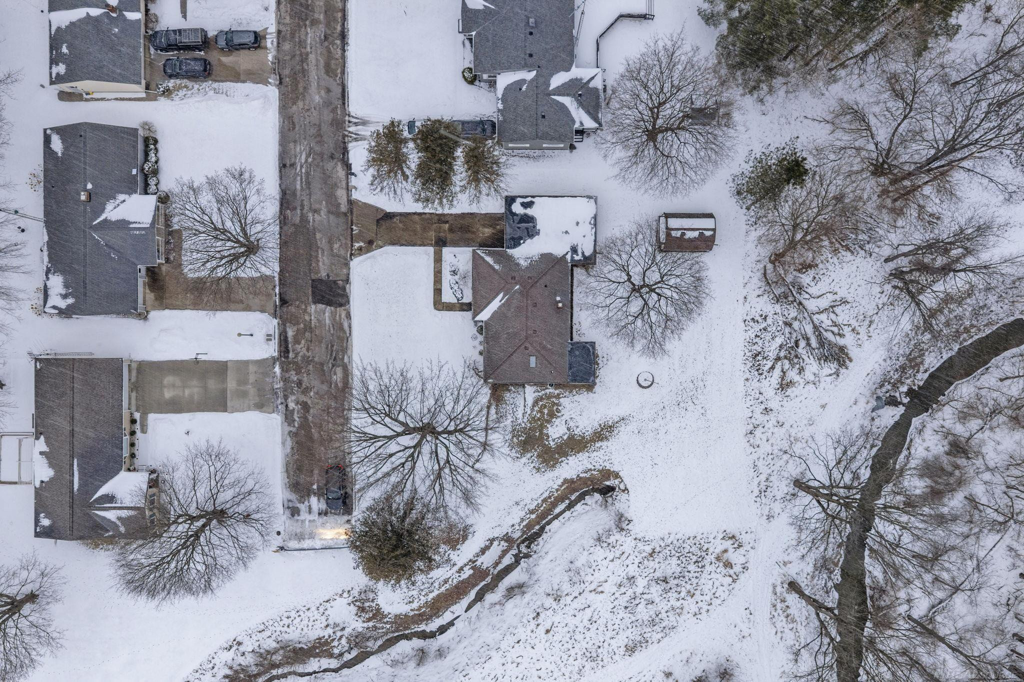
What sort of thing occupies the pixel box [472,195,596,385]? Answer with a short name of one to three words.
house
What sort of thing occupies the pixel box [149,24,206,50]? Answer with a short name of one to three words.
truck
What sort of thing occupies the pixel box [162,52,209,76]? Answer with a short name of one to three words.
car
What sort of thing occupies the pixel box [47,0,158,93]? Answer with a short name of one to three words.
house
